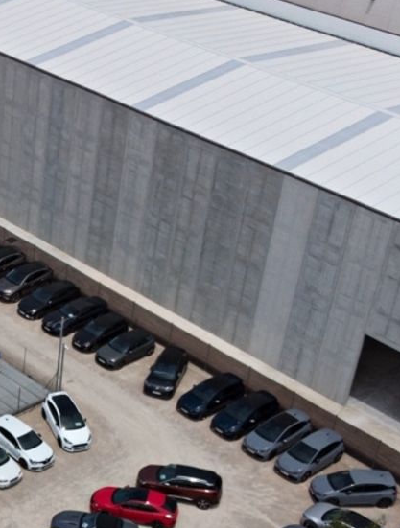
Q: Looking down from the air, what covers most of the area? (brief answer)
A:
buildings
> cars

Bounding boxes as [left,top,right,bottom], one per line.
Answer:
[174,366,240,420]
[0,443,24,488]
[242,409,305,461]
[40,395,87,450]
[272,427,339,480]
[95,326,153,369]
[208,384,275,439]
[37,297,99,338]
[0,414,53,469]
[18,279,74,321]
[90,484,181,528]
[0,263,47,302]
[301,503,382,528]
[48,509,139,528]
[137,460,225,508]
[71,309,127,351]
[310,467,398,506]
[143,340,189,396]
